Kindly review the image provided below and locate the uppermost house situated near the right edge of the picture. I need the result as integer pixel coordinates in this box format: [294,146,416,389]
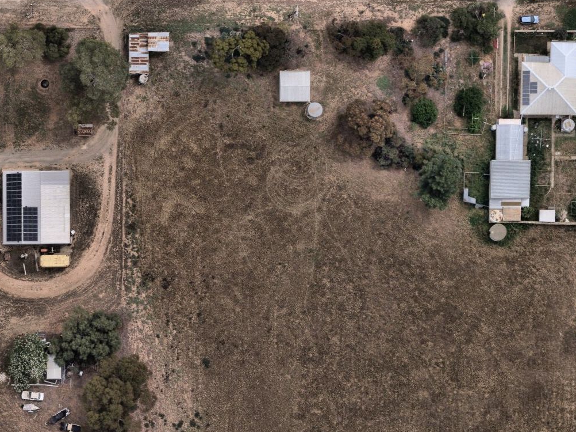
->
[520,41,576,116]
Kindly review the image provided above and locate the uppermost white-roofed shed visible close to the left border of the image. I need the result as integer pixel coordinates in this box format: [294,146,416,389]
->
[1,171,69,245]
